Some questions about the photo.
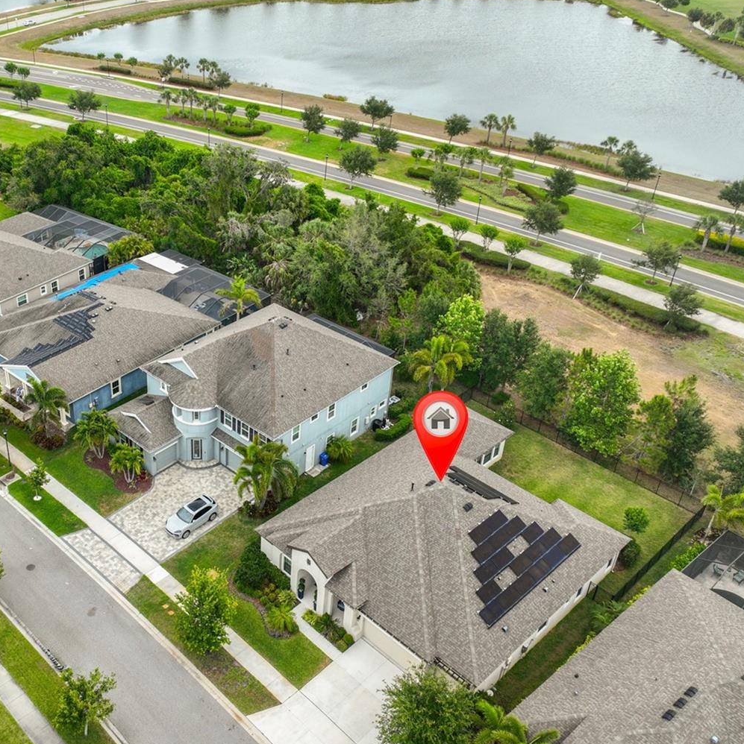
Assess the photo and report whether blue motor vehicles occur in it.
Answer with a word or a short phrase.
No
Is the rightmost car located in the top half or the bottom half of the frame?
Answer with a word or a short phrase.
bottom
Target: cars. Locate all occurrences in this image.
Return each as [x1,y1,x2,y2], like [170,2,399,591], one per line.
[23,20,35,26]
[164,497,223,543]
